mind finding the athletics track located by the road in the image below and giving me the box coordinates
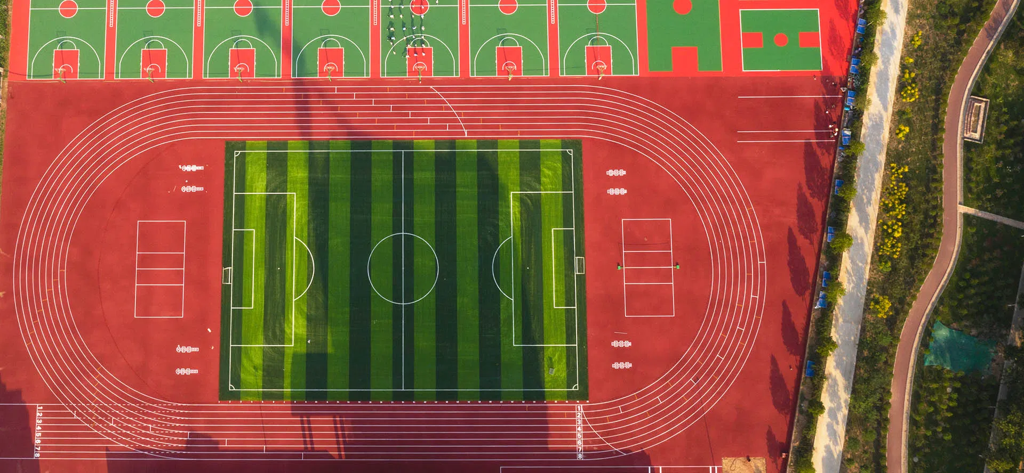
[0,85,767,471]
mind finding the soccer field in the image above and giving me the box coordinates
[219,139,588,401]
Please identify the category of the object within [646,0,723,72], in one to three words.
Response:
sports court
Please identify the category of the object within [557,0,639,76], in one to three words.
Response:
basketball court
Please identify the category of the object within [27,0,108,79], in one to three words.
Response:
basketball court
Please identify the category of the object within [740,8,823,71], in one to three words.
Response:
sports court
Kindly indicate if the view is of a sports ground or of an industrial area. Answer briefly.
sports ground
